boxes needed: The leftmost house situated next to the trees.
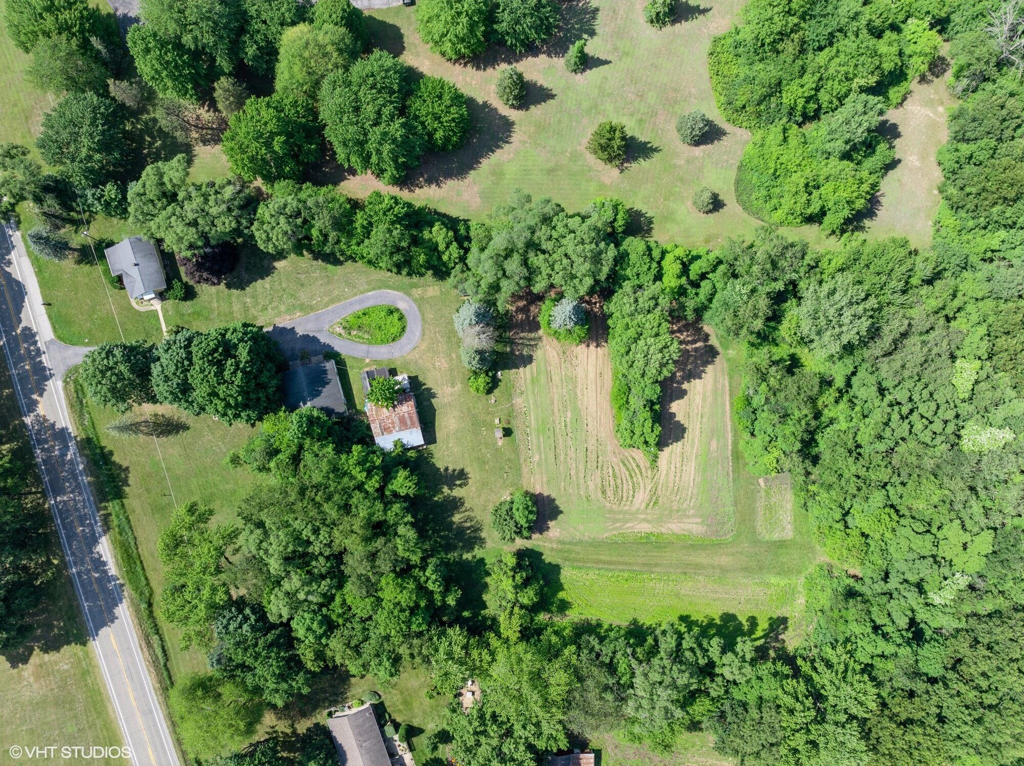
[104,235,170,307]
